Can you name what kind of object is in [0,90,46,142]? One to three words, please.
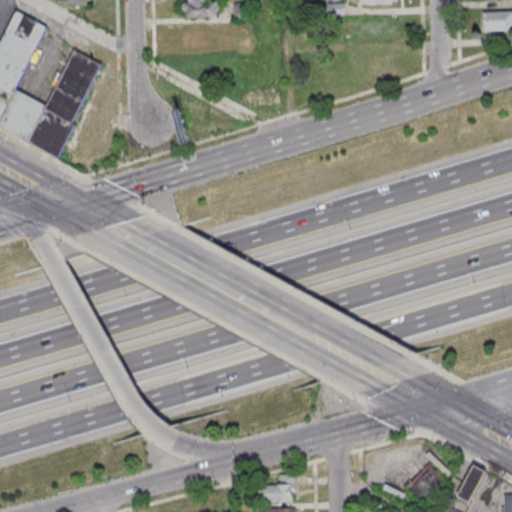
building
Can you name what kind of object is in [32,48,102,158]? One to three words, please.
building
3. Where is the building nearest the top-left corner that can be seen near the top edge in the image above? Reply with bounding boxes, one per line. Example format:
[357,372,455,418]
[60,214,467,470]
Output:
[0,10,48,94]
